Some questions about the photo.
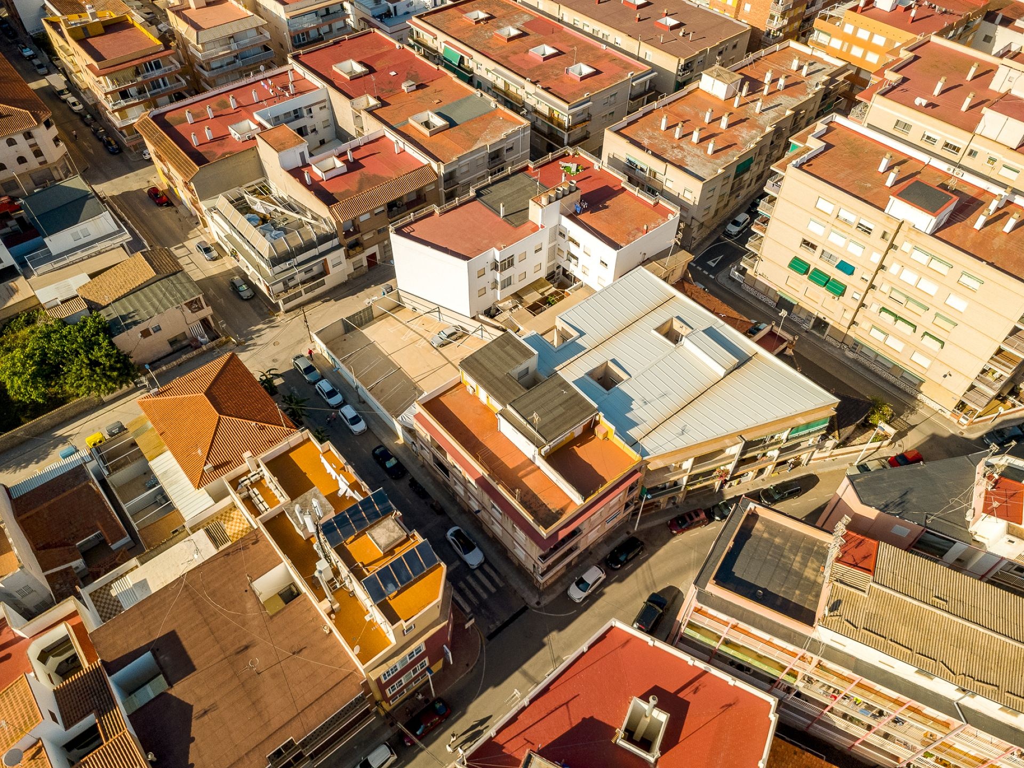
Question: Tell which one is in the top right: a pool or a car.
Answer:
car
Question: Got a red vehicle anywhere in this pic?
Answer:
Yes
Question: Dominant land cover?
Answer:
buildings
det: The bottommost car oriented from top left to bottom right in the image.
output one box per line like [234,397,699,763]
[442,522,487,571]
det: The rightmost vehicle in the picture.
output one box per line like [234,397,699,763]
[980,418,1024,448]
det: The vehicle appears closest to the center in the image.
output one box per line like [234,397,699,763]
[429,323,465,349]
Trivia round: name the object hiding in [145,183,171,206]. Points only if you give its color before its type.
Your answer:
red car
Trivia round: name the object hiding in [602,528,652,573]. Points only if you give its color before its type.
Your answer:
black car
